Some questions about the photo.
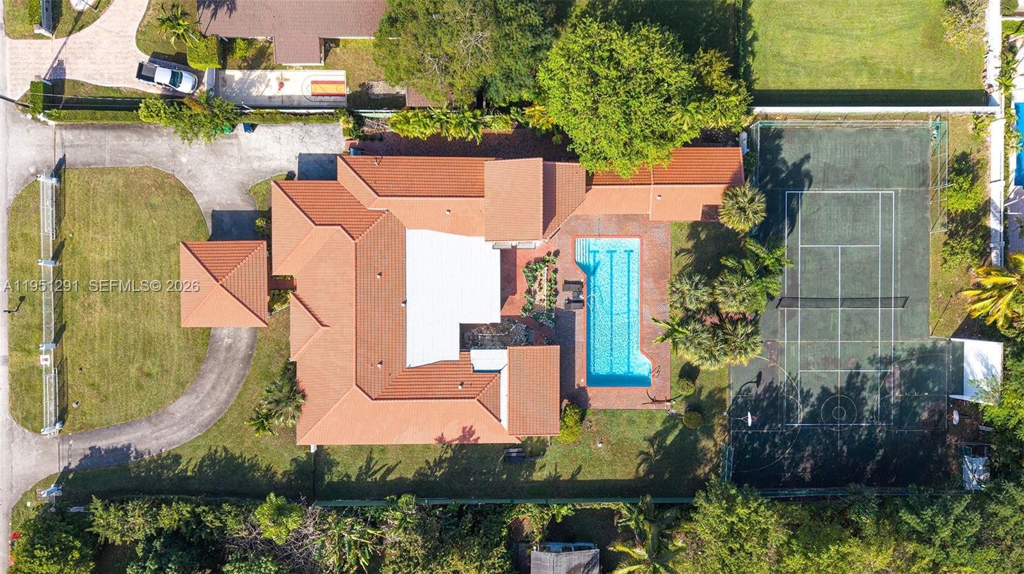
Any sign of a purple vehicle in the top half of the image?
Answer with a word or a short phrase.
No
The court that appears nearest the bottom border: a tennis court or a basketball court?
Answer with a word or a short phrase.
tennis court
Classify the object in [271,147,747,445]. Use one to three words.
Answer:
house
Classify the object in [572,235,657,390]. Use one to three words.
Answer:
swimming pool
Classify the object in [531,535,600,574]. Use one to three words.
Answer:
shed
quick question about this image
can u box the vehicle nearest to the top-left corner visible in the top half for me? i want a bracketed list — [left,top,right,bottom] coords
[137,57,201,93]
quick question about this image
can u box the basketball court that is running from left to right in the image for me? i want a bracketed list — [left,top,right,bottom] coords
[215,70,346,107]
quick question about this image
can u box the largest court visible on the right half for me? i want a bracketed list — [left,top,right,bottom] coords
[728,125,964,491]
